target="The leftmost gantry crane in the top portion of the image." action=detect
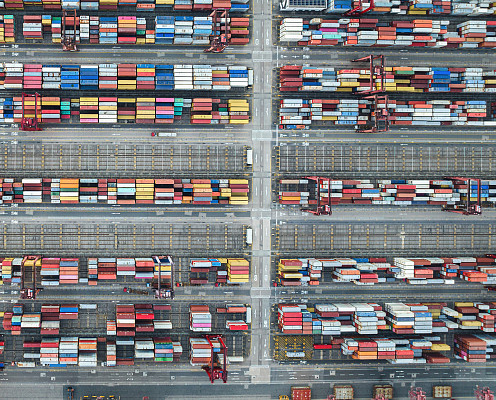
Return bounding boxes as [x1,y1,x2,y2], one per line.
[21,93,47,134]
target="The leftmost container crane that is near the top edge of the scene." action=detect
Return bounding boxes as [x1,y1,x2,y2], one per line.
[60,9,84,56]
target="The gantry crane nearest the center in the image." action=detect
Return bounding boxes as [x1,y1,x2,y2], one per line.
[299,177,331,217]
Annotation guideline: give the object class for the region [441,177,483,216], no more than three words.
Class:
container crane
